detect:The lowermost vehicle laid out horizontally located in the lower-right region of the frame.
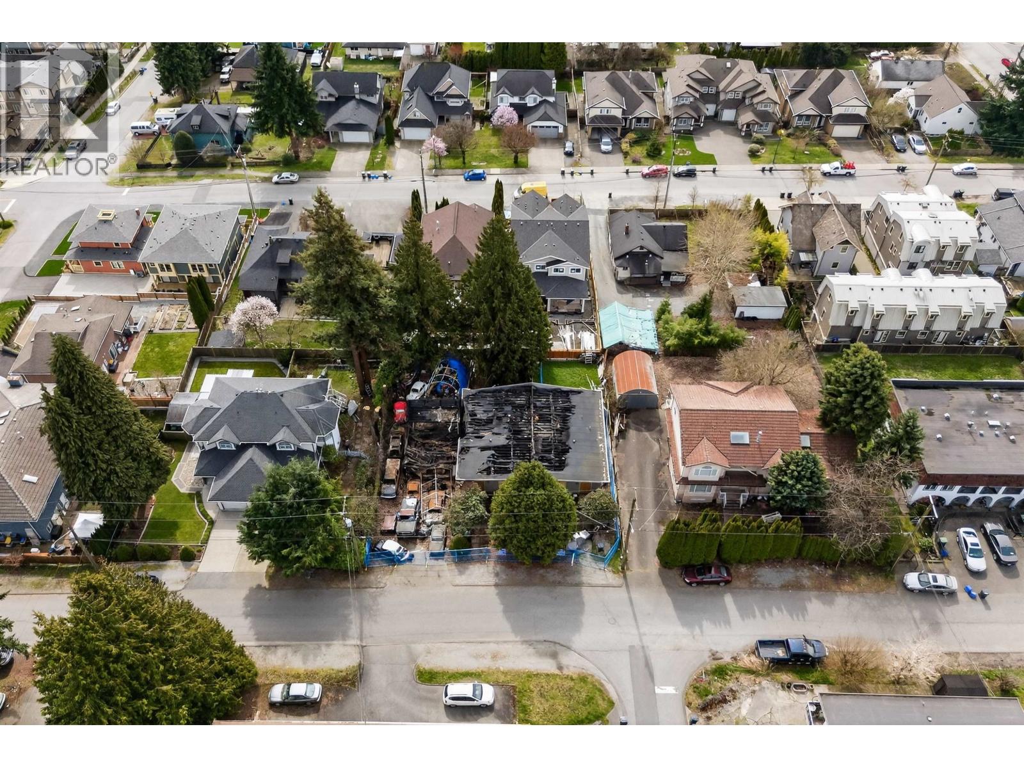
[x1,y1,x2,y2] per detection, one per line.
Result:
[758,639,827,667]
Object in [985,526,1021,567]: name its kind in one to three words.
car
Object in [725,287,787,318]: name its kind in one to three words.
shed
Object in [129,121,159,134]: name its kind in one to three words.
vehicle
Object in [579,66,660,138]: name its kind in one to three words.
house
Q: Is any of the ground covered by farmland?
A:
No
